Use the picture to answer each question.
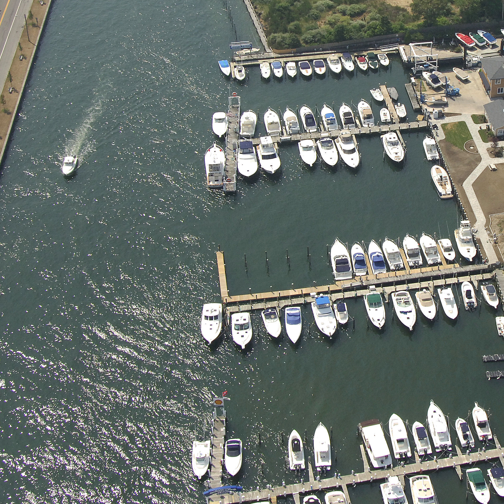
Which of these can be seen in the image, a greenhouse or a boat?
boat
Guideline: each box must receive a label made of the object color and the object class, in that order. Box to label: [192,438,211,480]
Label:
white boat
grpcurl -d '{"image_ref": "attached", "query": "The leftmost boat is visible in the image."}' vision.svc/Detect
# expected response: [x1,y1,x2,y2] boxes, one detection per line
[62,154,78,178]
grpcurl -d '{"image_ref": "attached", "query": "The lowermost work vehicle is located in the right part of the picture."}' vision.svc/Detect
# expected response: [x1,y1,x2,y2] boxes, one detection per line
[423,76,461,97]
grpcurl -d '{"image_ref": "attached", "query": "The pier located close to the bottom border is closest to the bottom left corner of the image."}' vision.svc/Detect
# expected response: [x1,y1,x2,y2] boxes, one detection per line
[205,410,228,504]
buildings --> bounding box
[476,56,504,97]
[486,99,504,137]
